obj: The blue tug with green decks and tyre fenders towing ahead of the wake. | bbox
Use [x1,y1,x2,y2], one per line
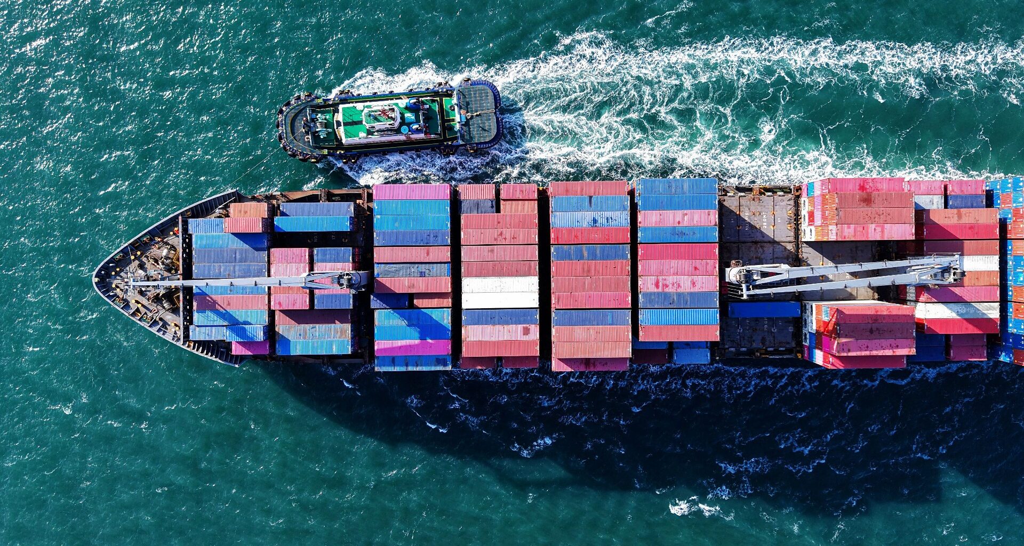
[277,78,506,164]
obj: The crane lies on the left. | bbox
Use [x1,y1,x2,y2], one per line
[129,268,377,297]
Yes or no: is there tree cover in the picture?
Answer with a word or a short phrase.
No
